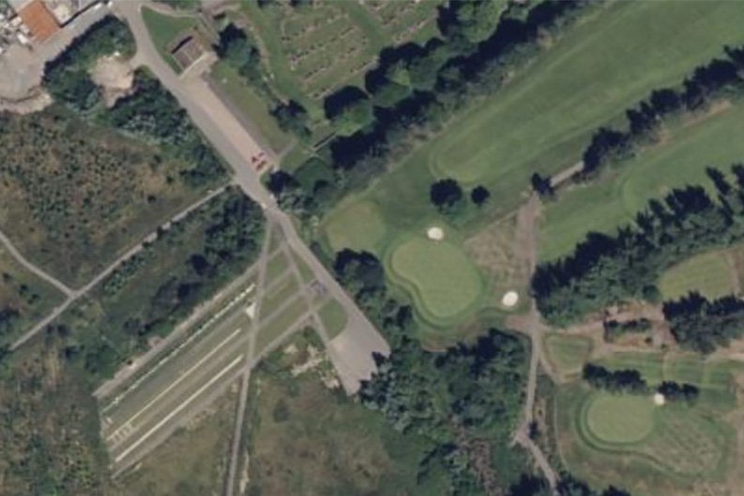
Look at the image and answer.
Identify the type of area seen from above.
golf course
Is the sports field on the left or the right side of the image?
left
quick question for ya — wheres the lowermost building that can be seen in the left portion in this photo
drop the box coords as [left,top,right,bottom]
[168,35,203,69]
